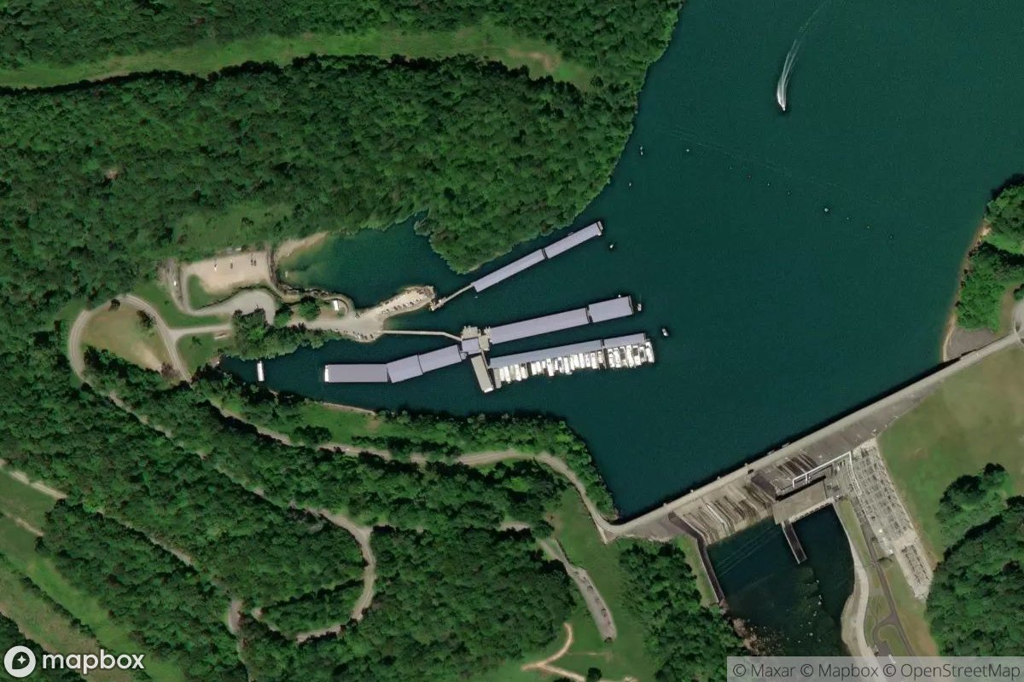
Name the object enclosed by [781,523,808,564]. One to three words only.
pier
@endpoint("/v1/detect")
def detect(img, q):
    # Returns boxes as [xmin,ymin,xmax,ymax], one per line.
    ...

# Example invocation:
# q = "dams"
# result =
[619,340,1009,546]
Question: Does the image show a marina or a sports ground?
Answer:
marina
